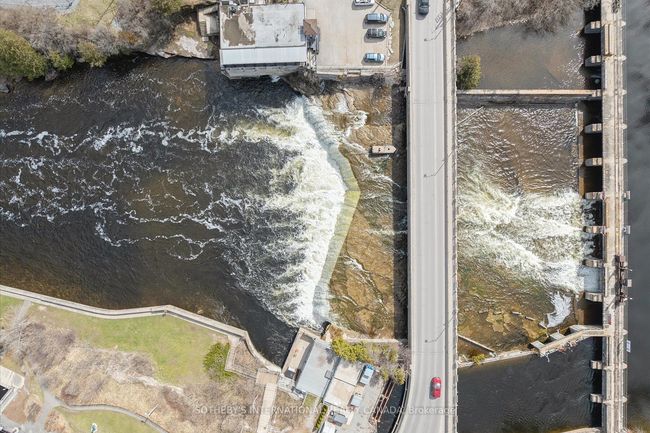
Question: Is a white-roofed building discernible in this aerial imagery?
Yes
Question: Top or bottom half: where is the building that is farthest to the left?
bottom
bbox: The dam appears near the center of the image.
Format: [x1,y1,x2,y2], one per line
[303,96,361,329]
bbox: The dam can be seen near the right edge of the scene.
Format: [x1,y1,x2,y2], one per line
[575,0,633,433]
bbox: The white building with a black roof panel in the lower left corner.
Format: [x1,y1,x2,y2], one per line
[0,357,32,413]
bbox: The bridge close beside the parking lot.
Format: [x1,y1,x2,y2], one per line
[388,0,460,433]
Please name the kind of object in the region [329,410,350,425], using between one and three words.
car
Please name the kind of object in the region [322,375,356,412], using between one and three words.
building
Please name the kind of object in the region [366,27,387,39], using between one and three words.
vehicle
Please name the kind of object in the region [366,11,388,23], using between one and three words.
vehicle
